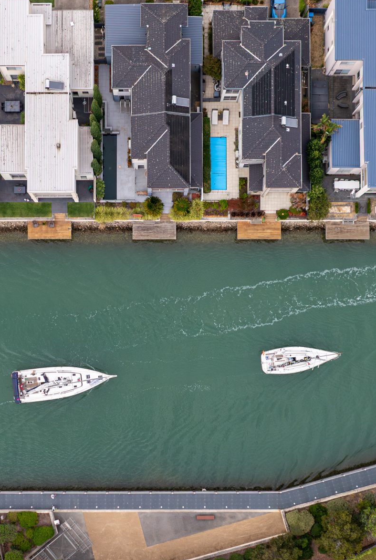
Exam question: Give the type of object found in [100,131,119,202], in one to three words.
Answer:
swimming pool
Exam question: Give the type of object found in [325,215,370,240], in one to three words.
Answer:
pier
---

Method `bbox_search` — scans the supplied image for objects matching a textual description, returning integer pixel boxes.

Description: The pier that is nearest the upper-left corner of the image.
[27,213,72,240]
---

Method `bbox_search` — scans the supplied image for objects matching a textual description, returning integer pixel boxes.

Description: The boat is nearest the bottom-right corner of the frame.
[259,344,341,374]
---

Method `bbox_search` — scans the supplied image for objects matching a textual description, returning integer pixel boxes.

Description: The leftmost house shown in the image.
[0,0,93,204]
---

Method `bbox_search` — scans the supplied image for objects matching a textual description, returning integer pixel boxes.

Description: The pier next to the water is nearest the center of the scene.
[132,214,177,240]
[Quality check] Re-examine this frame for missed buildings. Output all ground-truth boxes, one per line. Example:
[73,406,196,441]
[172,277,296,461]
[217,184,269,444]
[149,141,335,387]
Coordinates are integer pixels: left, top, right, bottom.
[105,2,203,198]
[327,0,376,198]
[212,6,312,198]
[0,0,93,204]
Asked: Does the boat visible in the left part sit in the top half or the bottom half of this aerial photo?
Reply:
bottom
